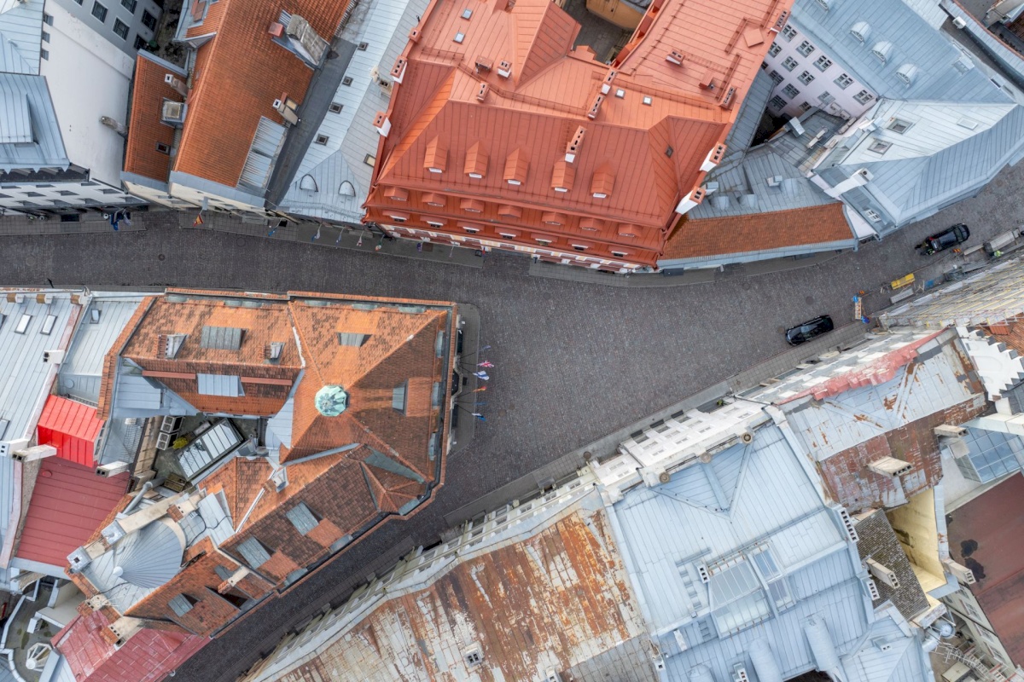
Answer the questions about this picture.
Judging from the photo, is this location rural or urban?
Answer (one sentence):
The area shown here is urban.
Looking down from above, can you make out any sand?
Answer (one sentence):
No, sand can't be seen anywhere here.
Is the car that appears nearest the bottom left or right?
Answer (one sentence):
The car that appears nearest the bottom is on the right side of the image.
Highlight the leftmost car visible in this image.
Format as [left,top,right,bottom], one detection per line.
[785,313,836,347]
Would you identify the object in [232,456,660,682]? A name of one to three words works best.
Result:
house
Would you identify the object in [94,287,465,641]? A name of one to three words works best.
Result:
building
